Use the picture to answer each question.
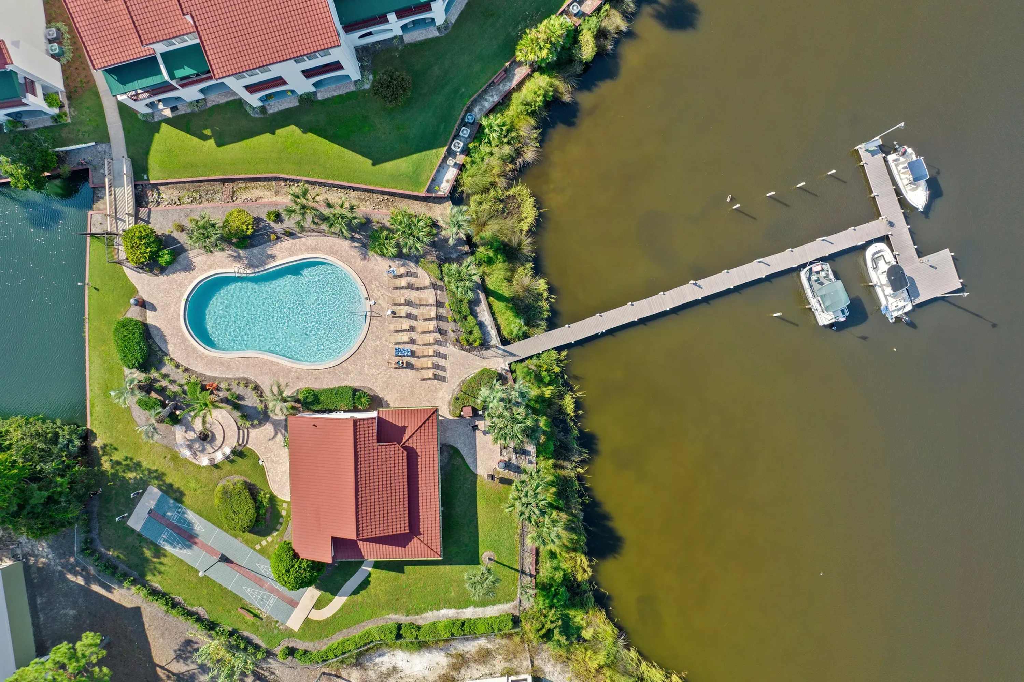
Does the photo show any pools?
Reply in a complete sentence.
Yes, the image includes a pool.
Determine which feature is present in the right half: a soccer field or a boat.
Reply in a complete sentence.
The one visible in the right half is a boat.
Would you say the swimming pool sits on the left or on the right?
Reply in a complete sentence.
The swimming pool is on the left side of the image.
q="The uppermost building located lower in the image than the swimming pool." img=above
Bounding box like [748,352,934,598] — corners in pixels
[287,406,444,559]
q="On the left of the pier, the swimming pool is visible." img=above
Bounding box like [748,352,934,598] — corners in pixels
[180,254,379,369]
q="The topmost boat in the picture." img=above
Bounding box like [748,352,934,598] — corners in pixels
[888,144,930,213]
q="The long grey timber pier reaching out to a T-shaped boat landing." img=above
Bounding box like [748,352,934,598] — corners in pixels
[502,144,962,365]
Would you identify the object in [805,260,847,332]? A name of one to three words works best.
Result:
boat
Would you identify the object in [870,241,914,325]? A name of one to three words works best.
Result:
boat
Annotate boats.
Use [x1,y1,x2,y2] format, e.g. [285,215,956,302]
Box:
[805,260,847,332]
[870,241,914,325]
[888,144,930,213]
